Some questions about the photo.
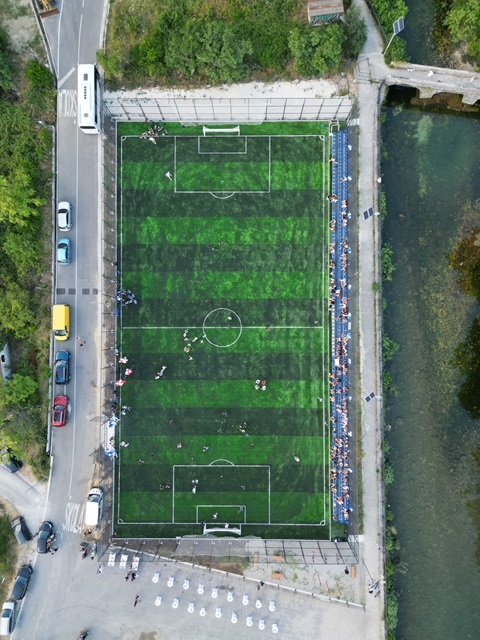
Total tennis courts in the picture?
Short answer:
0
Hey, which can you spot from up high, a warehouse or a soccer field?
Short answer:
soccer field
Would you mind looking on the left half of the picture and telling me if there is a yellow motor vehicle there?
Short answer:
Yes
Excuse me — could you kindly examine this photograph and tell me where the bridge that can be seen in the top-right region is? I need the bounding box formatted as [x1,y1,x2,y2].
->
[374,61,480,112]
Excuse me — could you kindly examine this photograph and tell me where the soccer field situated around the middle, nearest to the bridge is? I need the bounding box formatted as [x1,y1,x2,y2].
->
[114,121,348,541]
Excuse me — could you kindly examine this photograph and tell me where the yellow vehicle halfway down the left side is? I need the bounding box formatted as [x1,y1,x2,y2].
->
[53,305,71,340]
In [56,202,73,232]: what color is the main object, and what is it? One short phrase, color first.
white car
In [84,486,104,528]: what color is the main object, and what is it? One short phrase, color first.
white vehicle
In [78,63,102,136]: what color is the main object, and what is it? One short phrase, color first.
white bus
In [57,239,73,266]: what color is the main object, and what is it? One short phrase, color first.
blue car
